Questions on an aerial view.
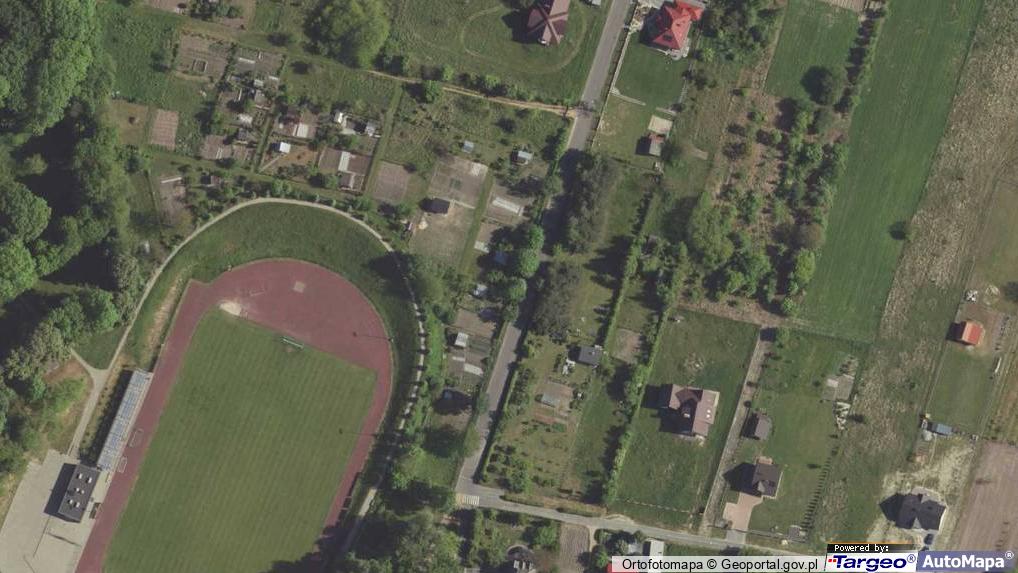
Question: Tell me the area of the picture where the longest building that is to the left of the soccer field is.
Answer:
bottom left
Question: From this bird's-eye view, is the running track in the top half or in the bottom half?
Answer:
bottom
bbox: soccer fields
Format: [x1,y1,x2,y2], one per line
[105,308,377,573]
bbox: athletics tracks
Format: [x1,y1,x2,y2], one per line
[76,259,394,573]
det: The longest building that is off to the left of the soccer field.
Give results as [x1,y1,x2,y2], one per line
[58,465,99,521]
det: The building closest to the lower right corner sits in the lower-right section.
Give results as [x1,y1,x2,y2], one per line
[895,491,947,533]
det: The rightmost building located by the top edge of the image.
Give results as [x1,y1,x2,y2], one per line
[651,0,701,50]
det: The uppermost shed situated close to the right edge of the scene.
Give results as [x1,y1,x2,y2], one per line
[954,320,980,346]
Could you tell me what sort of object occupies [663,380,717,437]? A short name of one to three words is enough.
house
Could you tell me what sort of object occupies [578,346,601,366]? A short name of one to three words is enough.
house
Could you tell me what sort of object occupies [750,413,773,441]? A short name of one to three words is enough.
shed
